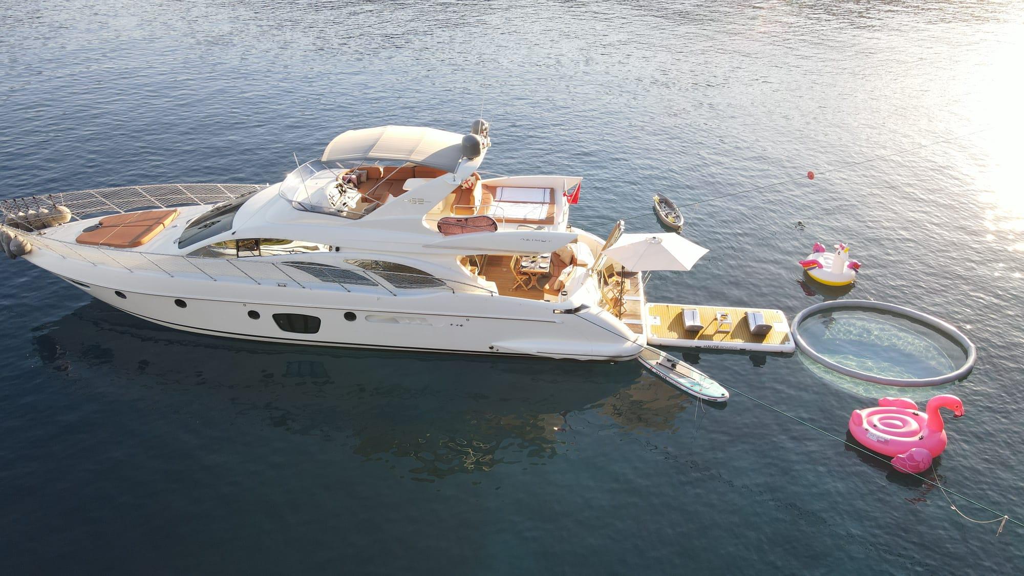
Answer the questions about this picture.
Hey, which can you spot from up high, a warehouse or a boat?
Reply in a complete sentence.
The image shows a boat.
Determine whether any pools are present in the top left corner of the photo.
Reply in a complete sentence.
No, the scene shows no pool in the top left corner of the photo.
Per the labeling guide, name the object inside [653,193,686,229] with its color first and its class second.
gray boat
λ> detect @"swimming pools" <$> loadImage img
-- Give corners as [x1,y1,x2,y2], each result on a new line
[790,300,975,409]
